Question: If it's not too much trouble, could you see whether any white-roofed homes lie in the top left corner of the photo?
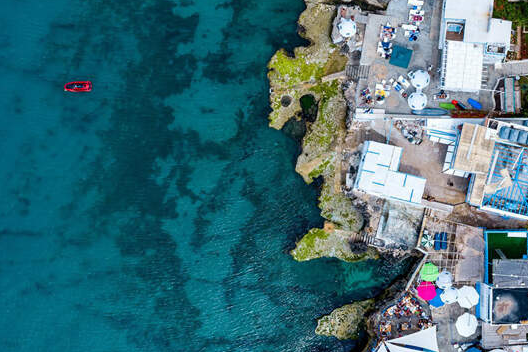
No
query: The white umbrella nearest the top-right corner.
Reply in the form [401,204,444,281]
[409,68,429,89]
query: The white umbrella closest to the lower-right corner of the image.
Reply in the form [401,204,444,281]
[456,313,477,335]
